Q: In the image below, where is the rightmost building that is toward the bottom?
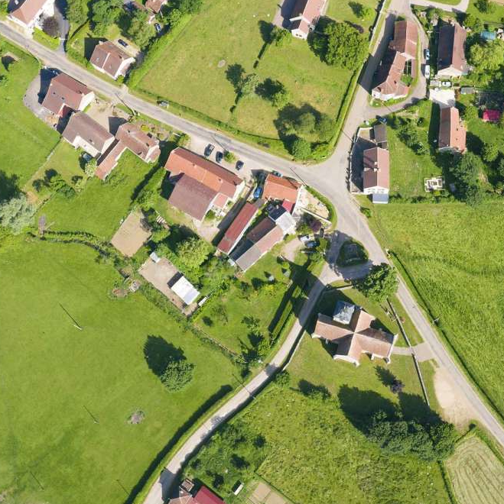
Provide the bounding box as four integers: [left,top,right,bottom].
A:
[313,301,395,369]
